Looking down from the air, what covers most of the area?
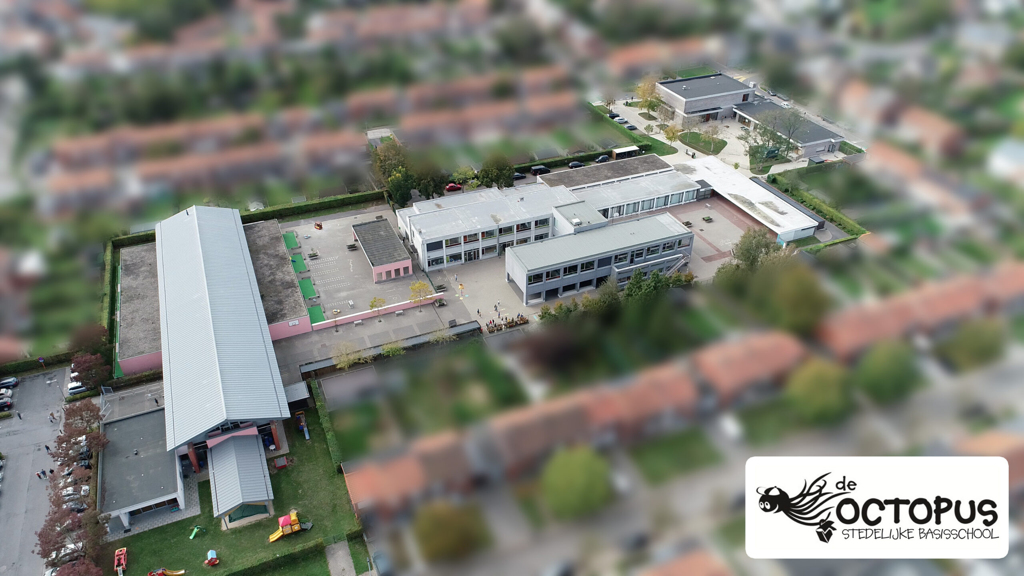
buildings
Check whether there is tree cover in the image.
Yes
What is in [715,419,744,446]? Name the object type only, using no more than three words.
vehicle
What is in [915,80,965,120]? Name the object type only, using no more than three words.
house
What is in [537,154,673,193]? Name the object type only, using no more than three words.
building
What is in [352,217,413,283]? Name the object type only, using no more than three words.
building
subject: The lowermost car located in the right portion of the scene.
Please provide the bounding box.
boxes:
[617,530,653,558]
